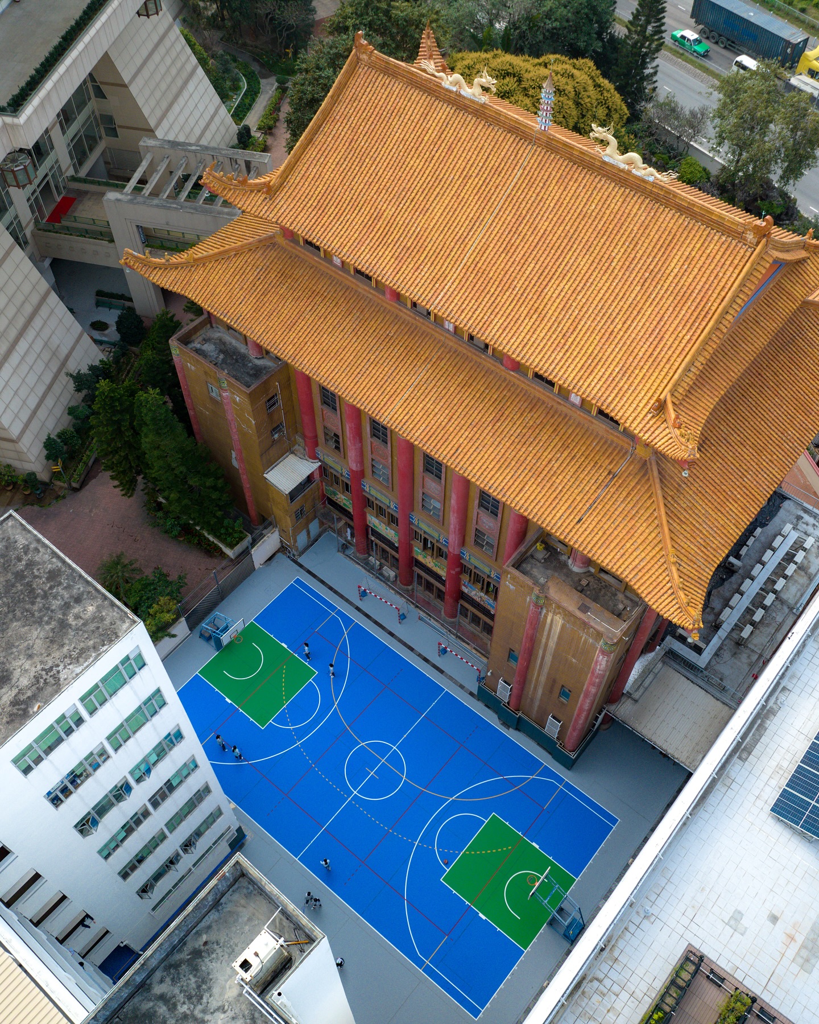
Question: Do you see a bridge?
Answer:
Yes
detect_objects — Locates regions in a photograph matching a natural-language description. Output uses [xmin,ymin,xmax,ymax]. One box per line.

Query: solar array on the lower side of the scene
[770,734,819,846]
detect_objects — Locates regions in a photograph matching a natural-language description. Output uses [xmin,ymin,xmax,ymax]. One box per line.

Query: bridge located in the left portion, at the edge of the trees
[22,169,249,285]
